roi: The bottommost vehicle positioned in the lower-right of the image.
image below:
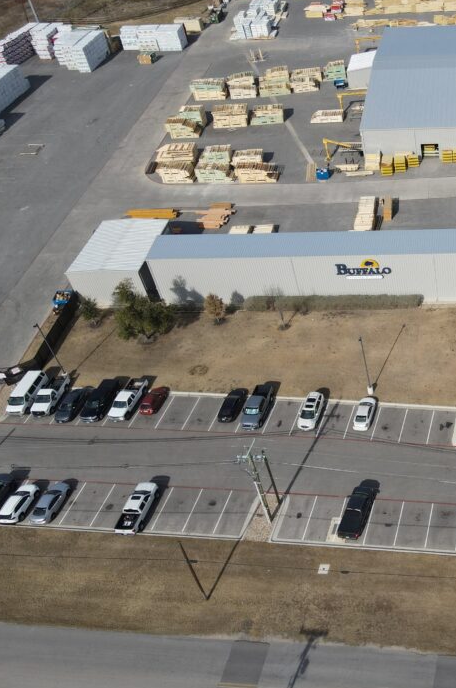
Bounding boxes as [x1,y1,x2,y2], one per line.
[337,484,374,540]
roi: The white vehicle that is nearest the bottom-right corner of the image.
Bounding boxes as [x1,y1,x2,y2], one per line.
[353,394,379,431]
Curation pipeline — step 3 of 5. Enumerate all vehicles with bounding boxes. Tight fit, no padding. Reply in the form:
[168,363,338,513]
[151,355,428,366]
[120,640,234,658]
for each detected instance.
[137,381,173,415]
[30,374,76,417]
[353,394,379,431]
[298,393,326,431]
[106,377,149,420]
[241,387,276,431]
[0,474,27,511]
[110,480,162,535]
[218,386,249,422]
[78,379,123,422]
[0,480,46,524]
[337,484,374,540]
[54,386,93,423]
[29,479,76,525]
[5,368,54,415]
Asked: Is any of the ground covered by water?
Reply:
No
